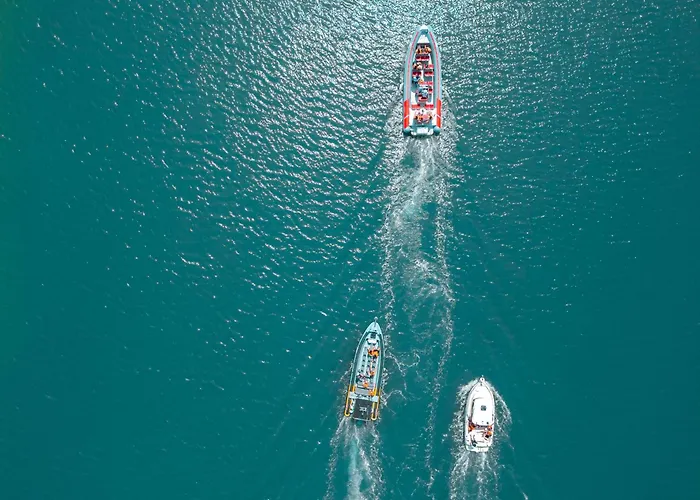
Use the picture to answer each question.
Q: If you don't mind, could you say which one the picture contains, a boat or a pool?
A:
boat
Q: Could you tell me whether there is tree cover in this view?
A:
No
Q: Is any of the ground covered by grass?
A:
No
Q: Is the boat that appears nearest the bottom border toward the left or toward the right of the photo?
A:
right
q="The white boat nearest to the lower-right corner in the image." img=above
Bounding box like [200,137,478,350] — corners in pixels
[464,376,496,453]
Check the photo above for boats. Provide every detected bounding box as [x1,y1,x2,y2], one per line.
[345,319,384,422]
[464,376,496,453]
[403,25,442,137]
